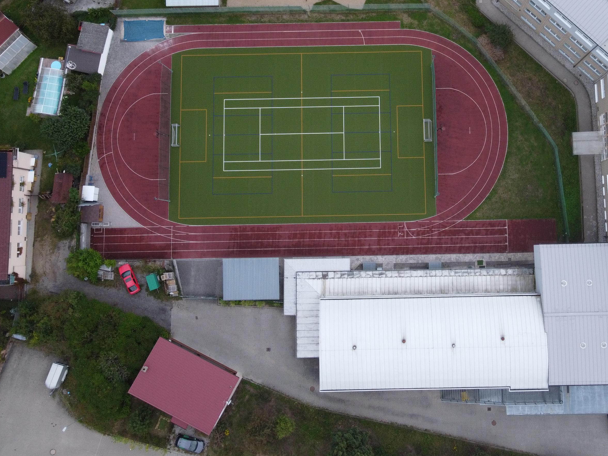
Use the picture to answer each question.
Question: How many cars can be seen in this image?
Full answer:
The picture shows 2 cars.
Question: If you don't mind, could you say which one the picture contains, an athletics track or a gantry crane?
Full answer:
Visible in the photo is an athletics track.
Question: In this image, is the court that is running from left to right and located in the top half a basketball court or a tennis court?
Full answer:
What you see as the court that is running from left to right and located in the top half is a tennis court.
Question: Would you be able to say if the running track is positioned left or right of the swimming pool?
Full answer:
The running track can be seen on the right of the swimming pool.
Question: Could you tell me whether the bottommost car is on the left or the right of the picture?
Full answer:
You can find the bottommost car on the left side of the picture.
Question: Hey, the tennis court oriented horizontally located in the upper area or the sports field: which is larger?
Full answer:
The tennis court is smaller than the sports field.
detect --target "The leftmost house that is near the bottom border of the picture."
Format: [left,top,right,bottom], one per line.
[124,336,240,435]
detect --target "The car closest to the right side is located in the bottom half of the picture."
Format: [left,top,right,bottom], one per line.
[175,433,206,454]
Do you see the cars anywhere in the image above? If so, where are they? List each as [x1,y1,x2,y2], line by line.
[175,433,206,454]
[120,263,140,295]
